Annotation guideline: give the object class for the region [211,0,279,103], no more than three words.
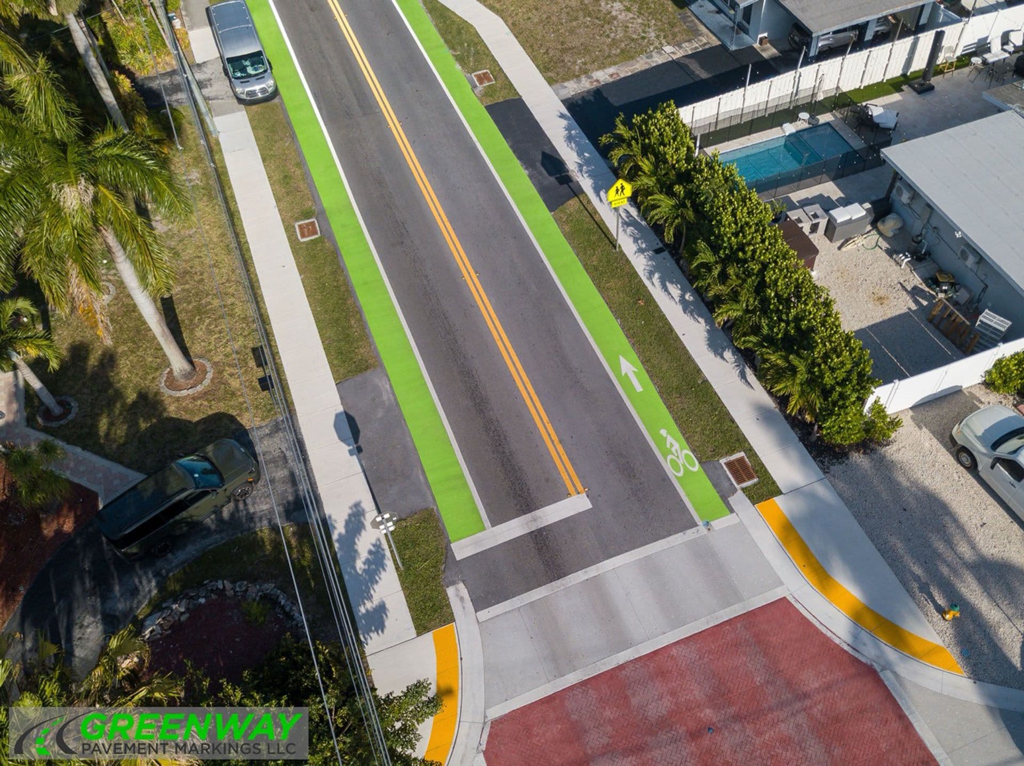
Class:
van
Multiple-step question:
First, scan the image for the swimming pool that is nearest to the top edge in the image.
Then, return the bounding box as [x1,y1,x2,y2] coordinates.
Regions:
[712,114,877,200]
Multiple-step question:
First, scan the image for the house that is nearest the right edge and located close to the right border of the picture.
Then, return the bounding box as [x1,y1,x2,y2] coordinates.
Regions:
[865,78,1024,341]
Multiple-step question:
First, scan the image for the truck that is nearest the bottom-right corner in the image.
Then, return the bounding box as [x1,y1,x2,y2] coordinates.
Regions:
[949,412,1024,540]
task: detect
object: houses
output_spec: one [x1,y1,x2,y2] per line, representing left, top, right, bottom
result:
[683,0,938,74]
[865,78,1024,341]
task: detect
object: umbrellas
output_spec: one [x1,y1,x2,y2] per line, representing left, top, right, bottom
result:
[910,31,950,92]
[808,75,828,123]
